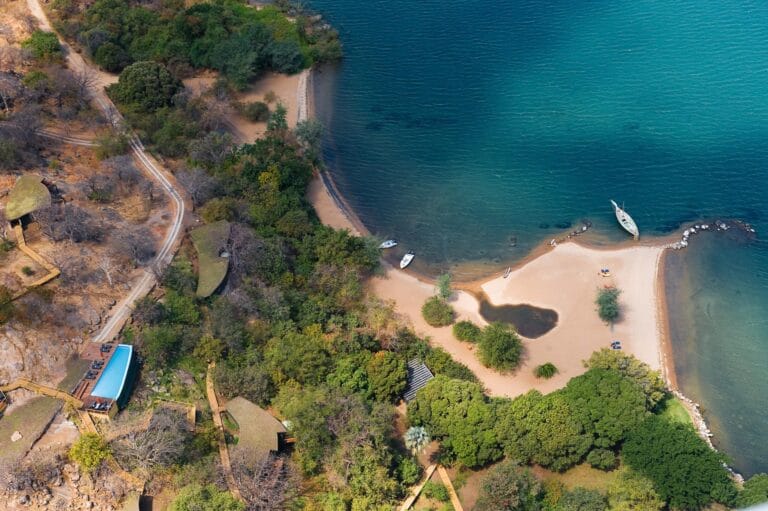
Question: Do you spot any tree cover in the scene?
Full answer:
Yes, there is tree cover in the image.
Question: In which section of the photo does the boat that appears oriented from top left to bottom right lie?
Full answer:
You can find the boat that appears oriented from top left to bottom right in the right area of the picture.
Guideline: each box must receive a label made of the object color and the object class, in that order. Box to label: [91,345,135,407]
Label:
blue swimming pool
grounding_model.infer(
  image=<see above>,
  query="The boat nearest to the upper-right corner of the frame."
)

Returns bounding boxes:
[614,197,641,239]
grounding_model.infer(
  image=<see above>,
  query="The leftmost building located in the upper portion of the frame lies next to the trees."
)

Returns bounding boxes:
[5,175,52,224]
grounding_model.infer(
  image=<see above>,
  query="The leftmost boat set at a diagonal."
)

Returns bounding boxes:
[402,250,416,267]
